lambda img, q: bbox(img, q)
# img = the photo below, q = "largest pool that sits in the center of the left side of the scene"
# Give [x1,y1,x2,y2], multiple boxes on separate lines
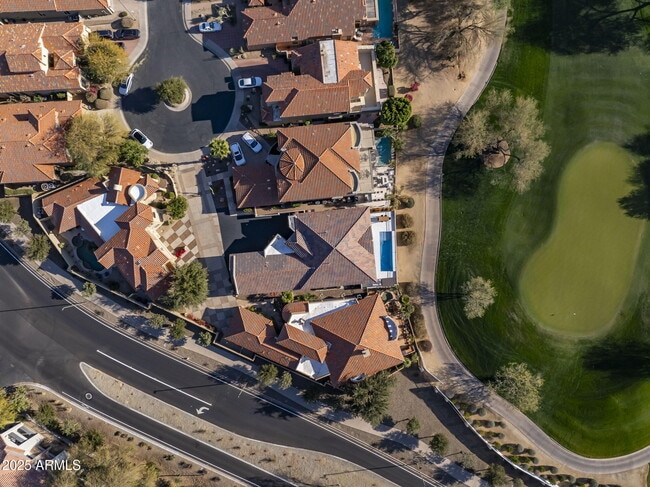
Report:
[76,240,107,273]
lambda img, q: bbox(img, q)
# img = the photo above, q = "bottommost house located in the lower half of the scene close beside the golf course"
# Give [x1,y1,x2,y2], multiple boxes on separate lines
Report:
[223,293,405,384]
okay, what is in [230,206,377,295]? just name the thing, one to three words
house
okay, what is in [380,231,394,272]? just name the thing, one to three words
swimming pool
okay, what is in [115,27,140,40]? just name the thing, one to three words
vehicle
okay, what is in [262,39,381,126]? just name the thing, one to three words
house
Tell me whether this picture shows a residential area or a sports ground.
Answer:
residential area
